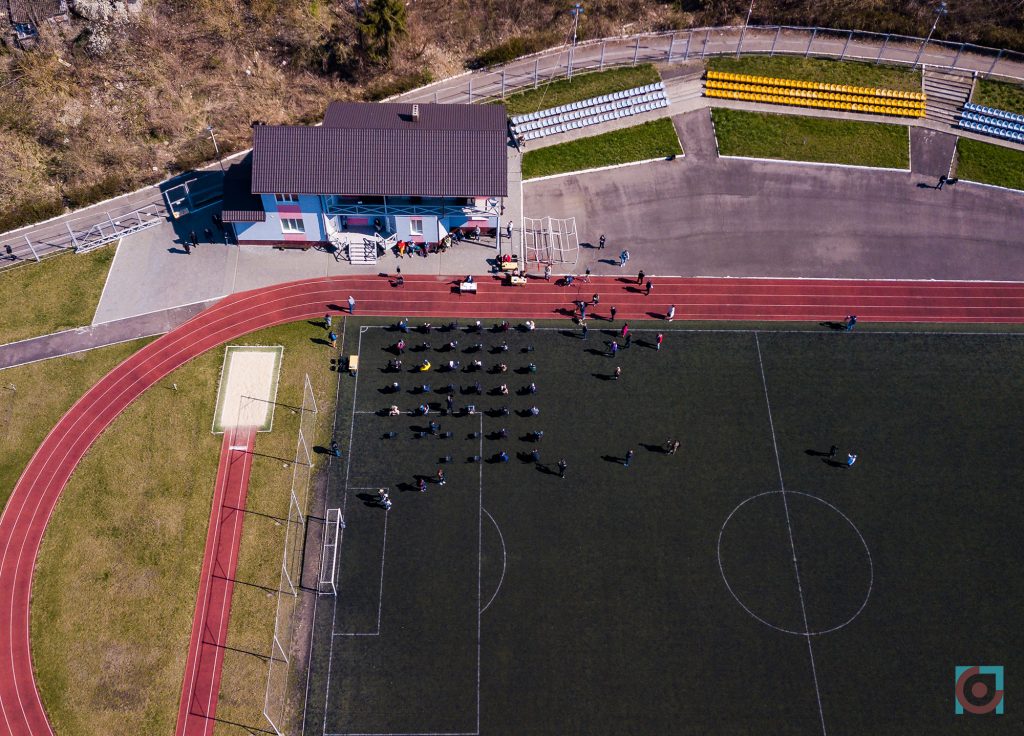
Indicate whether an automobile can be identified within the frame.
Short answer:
No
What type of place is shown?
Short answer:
sports ground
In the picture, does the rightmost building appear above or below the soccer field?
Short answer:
above it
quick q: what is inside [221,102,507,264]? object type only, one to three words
building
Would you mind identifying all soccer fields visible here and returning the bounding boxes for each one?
[302,317,1024,736]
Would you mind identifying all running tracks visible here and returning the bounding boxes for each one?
[0,274,1024,736]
